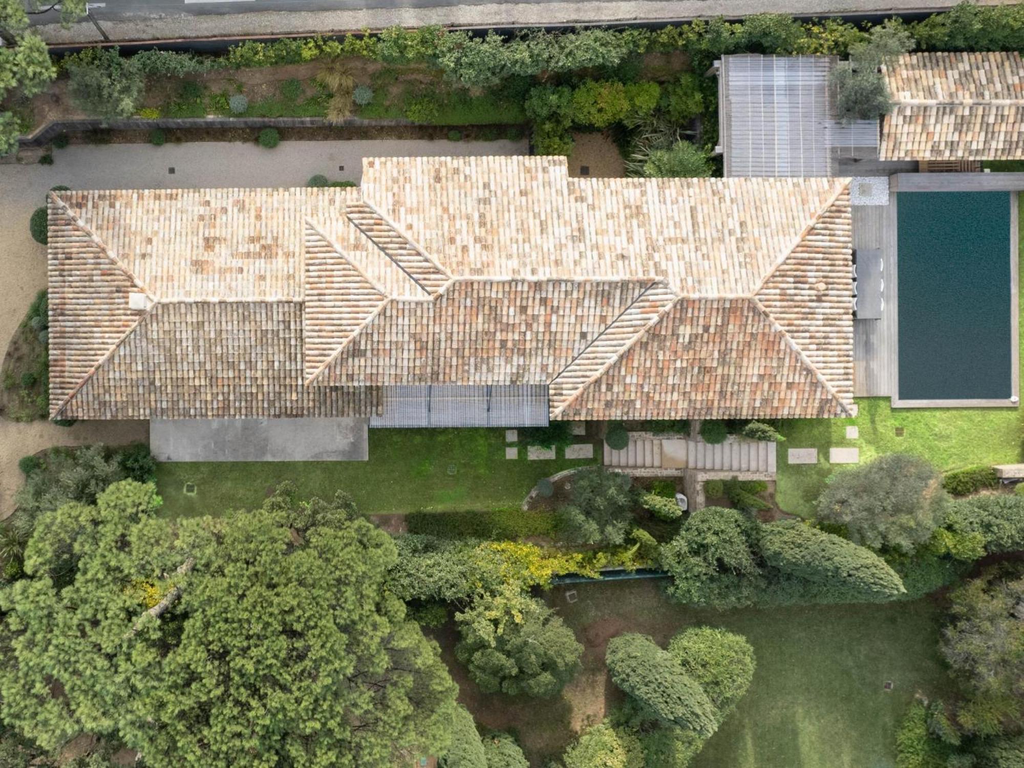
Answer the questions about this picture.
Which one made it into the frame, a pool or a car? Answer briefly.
pool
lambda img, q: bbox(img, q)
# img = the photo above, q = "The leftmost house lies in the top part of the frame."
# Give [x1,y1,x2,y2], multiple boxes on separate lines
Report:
[46,151,854,422]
